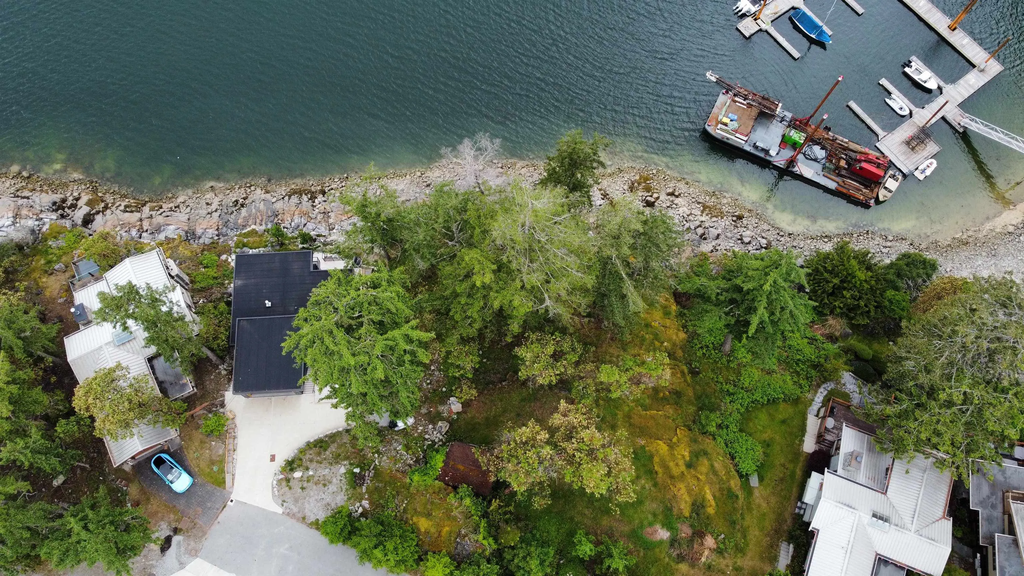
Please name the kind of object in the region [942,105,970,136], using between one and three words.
pier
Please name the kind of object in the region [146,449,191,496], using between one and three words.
car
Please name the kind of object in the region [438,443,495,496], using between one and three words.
shed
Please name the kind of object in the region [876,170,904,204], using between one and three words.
boat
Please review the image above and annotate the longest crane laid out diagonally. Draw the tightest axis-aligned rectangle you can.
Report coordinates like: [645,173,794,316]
[703,68,892,190]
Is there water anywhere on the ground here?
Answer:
Yes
